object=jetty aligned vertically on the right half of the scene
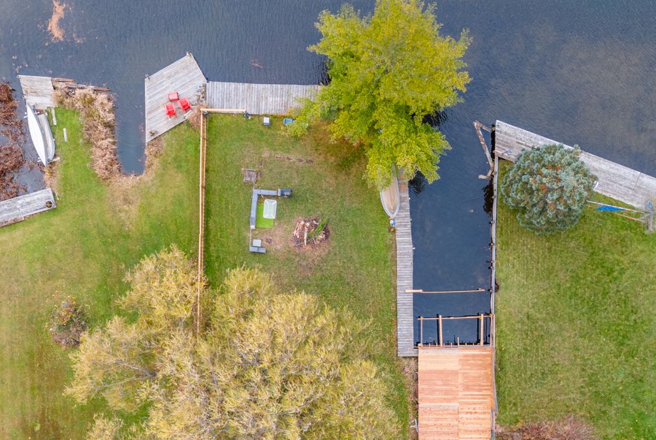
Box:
[396,160,415,358]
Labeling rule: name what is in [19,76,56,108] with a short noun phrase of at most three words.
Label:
pier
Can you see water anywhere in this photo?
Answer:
Yes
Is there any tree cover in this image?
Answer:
Yes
